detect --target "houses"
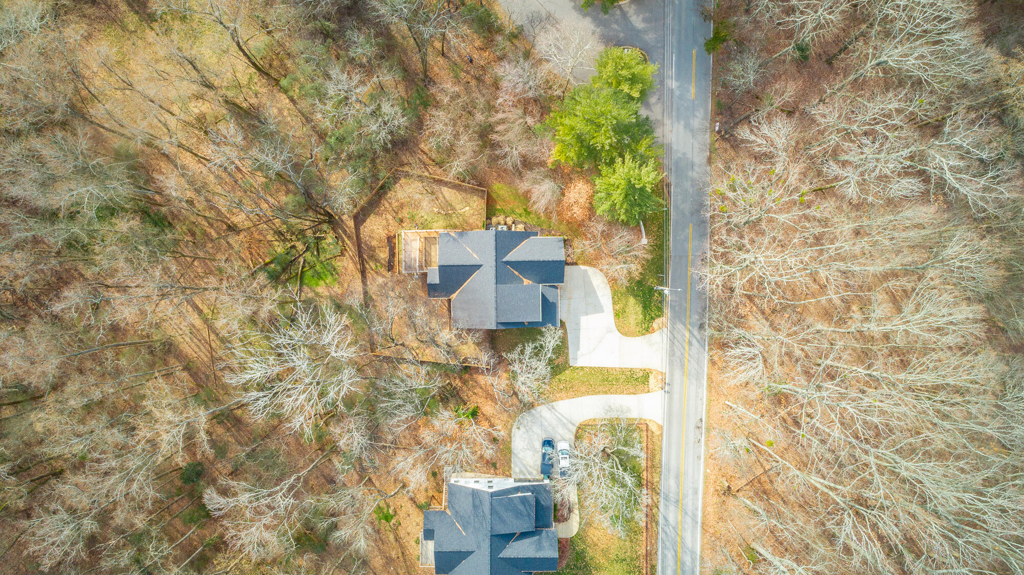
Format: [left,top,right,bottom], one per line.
[426,230,564,328]
[422,478,560,575]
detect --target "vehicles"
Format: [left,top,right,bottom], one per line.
[541,439,556,476]
[556,442,571,479]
